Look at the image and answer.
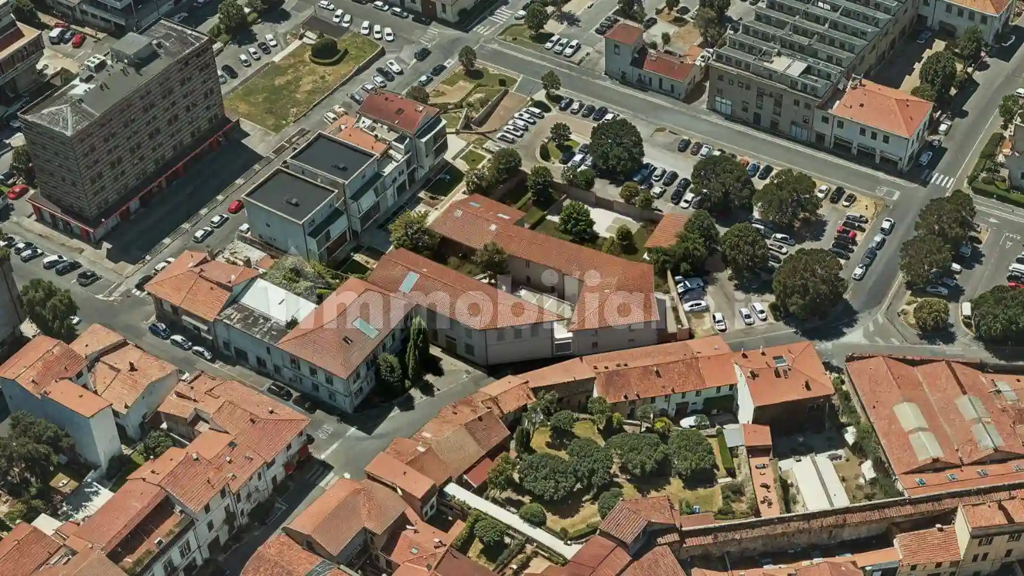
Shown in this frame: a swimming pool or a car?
car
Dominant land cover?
buildings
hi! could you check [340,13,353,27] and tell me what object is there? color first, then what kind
white vehicle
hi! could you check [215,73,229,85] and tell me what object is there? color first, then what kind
gray vehicle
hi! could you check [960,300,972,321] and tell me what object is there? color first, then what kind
white vehicle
